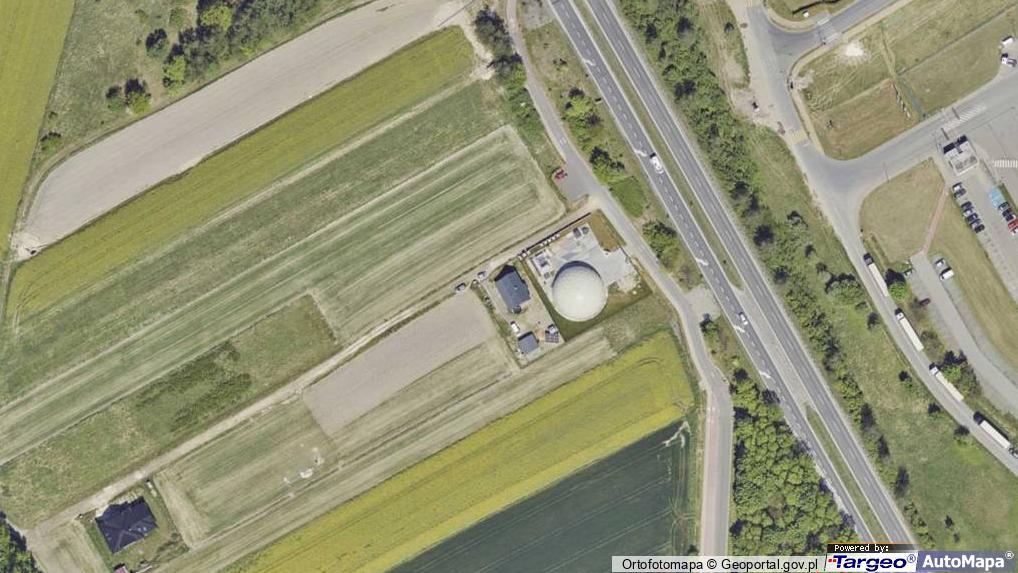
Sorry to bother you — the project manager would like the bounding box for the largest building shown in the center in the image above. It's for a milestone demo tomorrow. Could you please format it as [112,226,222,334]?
[494,271,532,312]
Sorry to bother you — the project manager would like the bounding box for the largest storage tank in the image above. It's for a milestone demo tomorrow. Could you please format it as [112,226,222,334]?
[552,264,607,319]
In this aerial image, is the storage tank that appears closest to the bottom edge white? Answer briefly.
Yes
